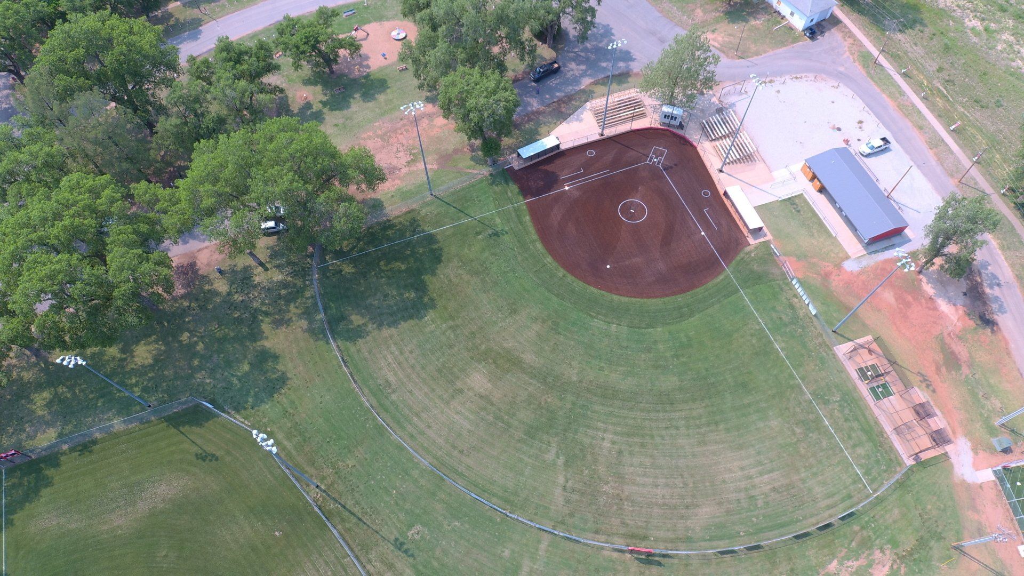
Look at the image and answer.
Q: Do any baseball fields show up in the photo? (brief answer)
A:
Yes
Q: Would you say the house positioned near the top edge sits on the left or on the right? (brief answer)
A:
right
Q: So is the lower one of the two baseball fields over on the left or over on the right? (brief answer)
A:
left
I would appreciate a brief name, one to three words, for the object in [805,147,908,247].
building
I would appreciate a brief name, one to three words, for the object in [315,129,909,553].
baseball field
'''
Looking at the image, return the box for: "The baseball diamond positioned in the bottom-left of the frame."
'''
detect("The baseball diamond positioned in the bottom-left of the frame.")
[0,401,362,576]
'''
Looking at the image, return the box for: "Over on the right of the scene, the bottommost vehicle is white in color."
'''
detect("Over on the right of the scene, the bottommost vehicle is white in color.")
[859,138,893,157]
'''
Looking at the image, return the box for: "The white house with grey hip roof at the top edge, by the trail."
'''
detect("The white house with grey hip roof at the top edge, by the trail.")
[766,0,842,31]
